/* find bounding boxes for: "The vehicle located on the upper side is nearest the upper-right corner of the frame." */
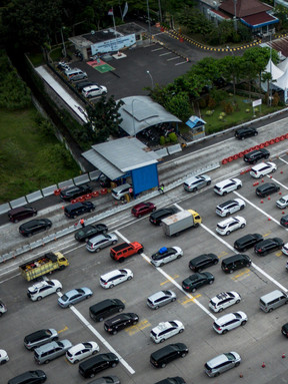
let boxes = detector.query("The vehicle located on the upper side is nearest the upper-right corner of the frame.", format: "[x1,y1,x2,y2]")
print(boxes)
[234,127,259,142]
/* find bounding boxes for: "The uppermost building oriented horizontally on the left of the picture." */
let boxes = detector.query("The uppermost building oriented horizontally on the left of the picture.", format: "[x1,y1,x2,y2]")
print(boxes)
[67,22,146,60]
